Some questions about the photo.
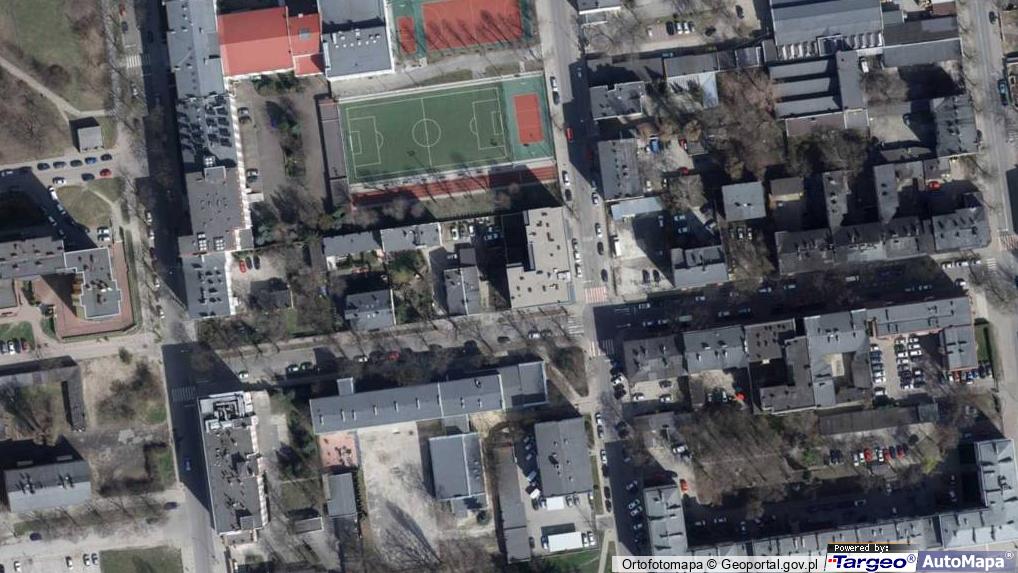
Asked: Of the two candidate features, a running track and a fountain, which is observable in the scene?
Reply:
running track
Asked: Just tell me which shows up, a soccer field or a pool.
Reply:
soccer field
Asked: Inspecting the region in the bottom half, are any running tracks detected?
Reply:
No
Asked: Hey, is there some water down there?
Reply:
No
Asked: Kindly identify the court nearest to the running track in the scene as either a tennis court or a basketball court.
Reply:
basketball court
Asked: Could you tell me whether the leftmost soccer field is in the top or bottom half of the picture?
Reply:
top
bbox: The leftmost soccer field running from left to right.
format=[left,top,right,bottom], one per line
[340,81,517,185]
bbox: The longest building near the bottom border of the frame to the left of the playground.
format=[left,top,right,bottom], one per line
[198,391,270,546]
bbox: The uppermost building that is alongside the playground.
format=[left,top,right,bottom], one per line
[310,362,549,436]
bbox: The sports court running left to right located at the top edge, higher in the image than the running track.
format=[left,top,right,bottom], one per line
[390,0,534,60]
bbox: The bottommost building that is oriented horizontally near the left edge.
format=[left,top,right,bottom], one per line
[5,461,92,511]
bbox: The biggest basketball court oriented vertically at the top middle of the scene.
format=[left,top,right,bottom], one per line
[502,75,550,161]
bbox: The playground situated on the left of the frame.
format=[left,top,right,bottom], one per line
[319,431,358,469]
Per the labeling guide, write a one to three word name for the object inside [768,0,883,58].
building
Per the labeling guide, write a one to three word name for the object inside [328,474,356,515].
shed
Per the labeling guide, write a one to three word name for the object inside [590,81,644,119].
house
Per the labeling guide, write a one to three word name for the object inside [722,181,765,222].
house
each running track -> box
[349,157,554,207]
